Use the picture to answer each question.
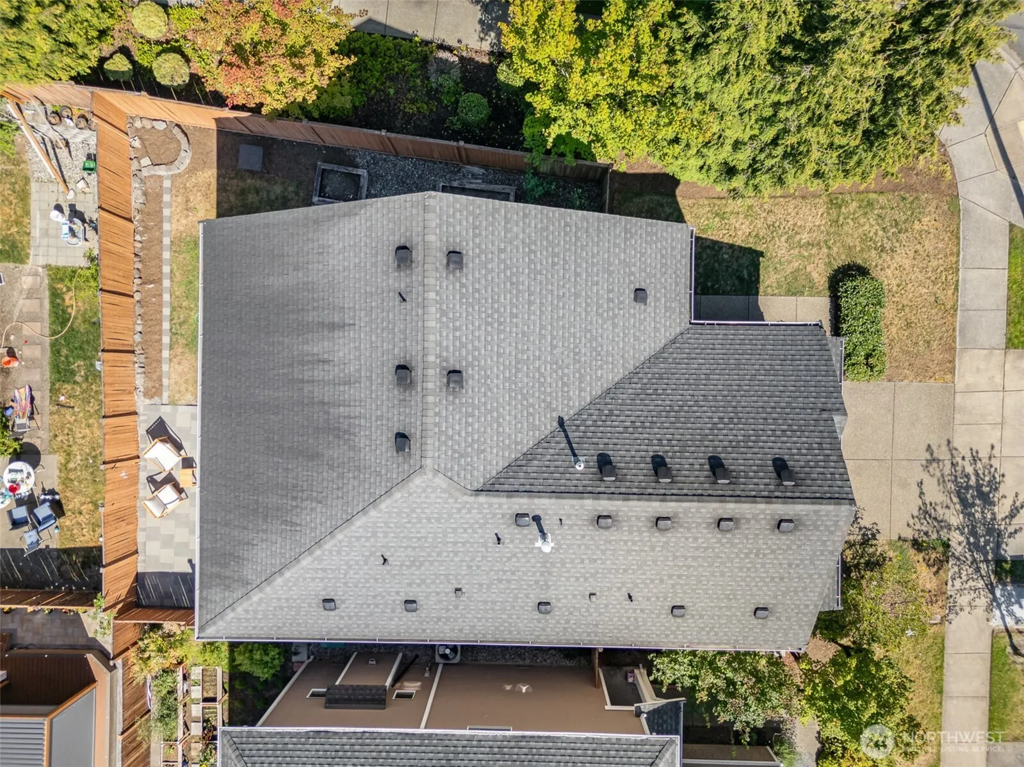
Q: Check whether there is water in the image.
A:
No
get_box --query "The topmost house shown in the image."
[190,192,856,654]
